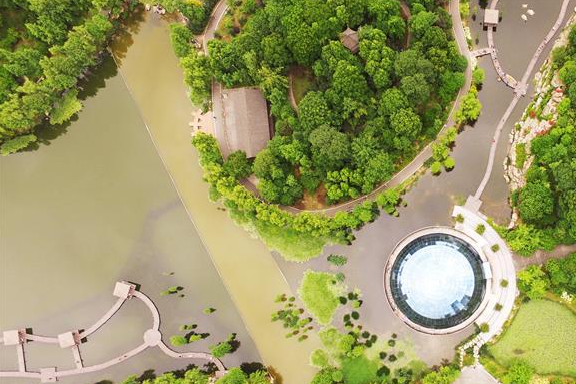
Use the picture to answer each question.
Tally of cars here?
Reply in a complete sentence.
I count no cars.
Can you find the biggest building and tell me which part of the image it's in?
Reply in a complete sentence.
The biggest building is in the bottom right part of the image.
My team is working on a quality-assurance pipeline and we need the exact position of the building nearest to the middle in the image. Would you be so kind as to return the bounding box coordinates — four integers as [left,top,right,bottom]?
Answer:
[225,85,272,165]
